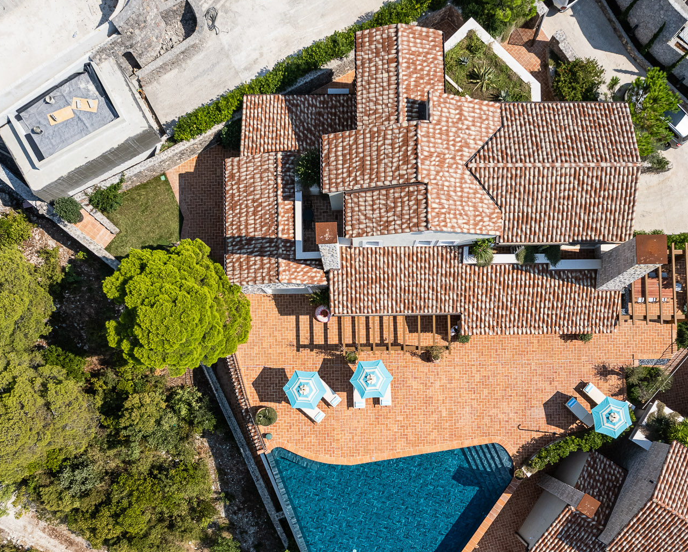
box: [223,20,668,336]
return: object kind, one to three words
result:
house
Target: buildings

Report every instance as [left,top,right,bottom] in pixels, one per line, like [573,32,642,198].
[522,441,688,552]
[0,58,171,201]
[223,20,668,336]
